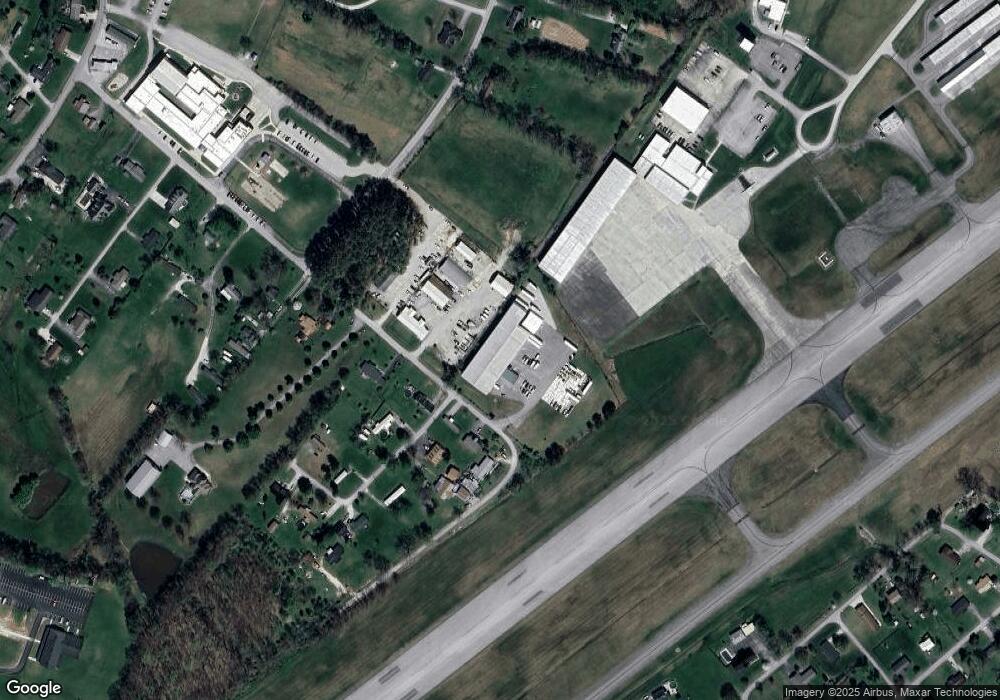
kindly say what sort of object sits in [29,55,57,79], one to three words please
house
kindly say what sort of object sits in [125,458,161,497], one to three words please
barn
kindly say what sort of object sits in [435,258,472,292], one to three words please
building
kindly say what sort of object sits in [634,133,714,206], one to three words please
hangar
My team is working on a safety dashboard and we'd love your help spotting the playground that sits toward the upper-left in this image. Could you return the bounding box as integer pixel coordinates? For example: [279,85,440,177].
[241,159,289,212]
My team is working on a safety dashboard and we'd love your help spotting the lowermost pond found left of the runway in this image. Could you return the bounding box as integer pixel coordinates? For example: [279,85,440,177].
[131,541,182,595]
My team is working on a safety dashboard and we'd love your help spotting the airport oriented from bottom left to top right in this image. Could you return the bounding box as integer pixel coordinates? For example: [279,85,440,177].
[340,0,1000,700]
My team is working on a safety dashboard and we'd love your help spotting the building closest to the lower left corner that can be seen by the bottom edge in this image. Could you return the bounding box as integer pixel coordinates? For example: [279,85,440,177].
[36,624,79,670]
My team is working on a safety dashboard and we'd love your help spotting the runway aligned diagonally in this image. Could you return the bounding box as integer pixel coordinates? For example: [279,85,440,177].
[340,190,1000,700]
